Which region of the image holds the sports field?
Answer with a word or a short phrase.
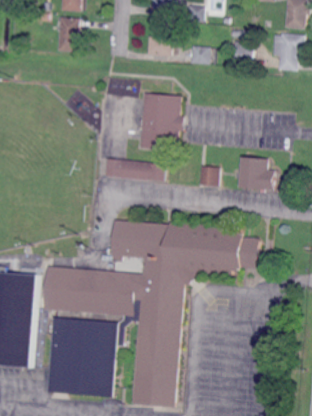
left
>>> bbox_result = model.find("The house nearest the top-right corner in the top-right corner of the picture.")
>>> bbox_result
[286,0,312,30]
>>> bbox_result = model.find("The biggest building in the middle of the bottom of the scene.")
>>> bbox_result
[46,220,262,408]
